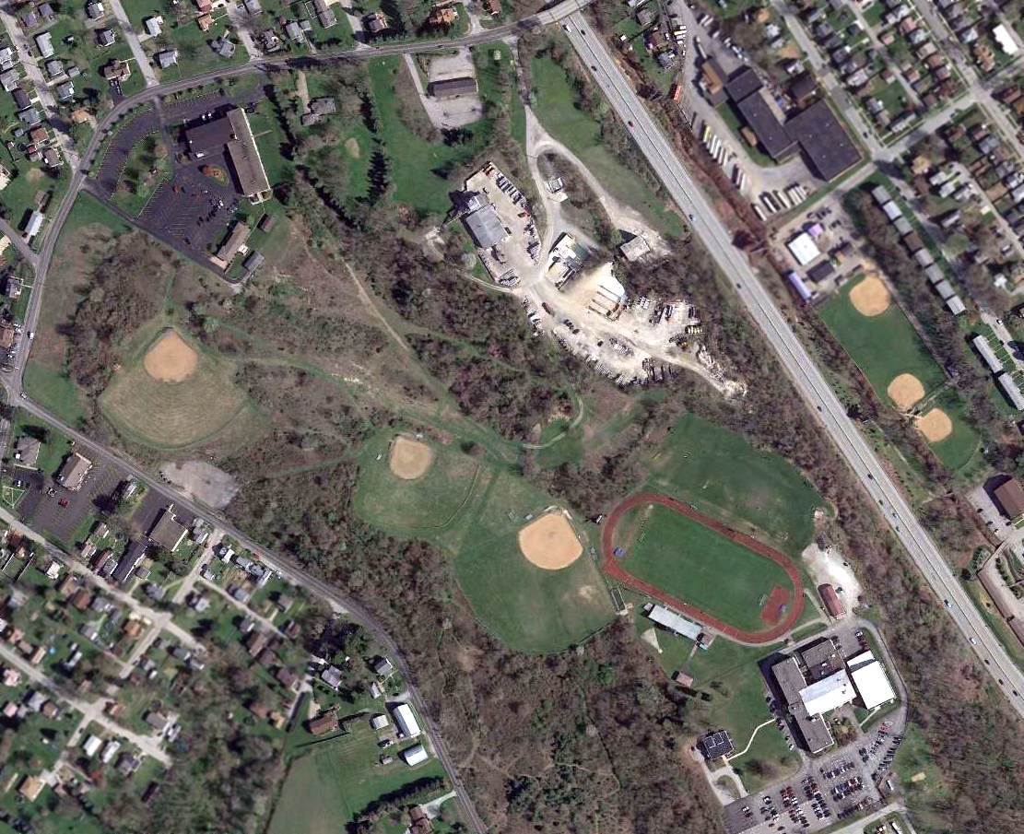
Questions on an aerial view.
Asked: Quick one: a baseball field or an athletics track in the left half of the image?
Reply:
baseball field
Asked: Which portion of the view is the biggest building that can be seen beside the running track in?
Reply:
bottom right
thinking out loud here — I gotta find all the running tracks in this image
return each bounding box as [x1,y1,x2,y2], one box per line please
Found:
[601,493,805,644]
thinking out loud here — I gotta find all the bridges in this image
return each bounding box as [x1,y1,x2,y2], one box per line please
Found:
[531,0,589,31]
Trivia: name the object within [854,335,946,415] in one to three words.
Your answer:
baseball field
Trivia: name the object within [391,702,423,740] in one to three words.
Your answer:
barn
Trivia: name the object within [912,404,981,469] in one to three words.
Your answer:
baseball field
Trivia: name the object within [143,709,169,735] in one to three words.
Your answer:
house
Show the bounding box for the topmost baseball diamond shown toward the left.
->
[103,318,250,452]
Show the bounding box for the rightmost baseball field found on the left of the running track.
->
[452,469,617,651]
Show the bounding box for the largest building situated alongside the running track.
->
[772,641,858,754]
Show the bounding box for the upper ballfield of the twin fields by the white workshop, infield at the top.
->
[818,268,922,369]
